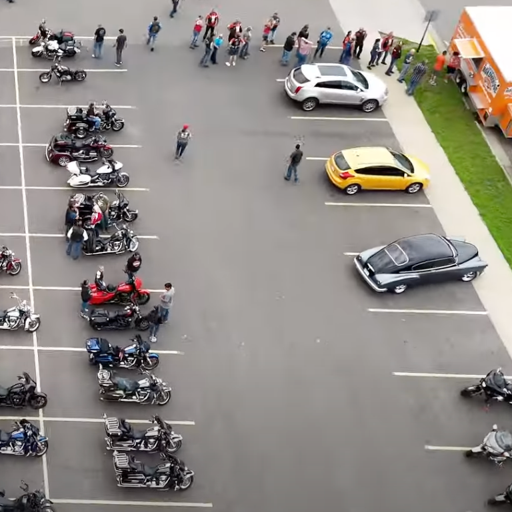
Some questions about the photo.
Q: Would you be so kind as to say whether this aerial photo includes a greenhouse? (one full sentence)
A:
No, no greenhouse can be seen from above.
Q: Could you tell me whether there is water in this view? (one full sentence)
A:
No, the picture contains no water.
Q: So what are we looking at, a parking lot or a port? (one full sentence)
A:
The picture captures a parking lot.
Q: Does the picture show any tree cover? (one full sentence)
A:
No, no tree cover is visible.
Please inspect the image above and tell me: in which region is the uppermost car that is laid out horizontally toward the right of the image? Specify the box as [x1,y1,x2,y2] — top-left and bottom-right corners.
[283,61,391,111]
